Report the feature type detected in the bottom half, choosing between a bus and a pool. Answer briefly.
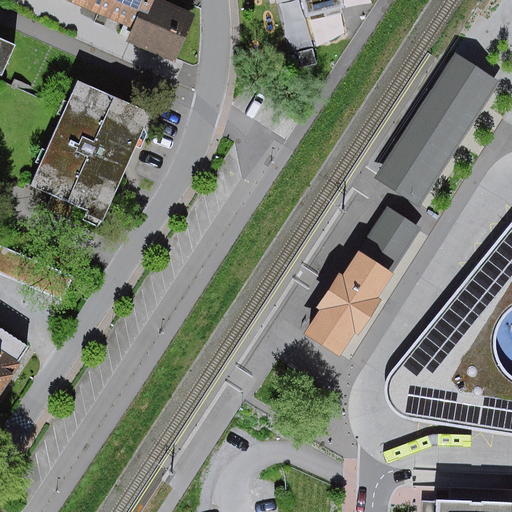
bus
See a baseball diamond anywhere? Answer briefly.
No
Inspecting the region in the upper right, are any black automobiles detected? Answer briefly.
No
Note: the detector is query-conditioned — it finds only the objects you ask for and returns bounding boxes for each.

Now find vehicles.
[158,123,180,138]
[152,136,174,150]
[254,501,276,512]
[356,488,366,512]
[392,470,412,482]
[162,111,182,125]
[138,151,164,167]
[226,432,250,450]
[380,434,472,466]
[246,94,265,118]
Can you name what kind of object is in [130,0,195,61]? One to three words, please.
house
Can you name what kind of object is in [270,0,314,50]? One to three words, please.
building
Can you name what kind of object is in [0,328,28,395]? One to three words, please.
house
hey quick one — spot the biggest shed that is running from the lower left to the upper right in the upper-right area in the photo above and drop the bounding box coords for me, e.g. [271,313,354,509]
[374,52,499,206]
